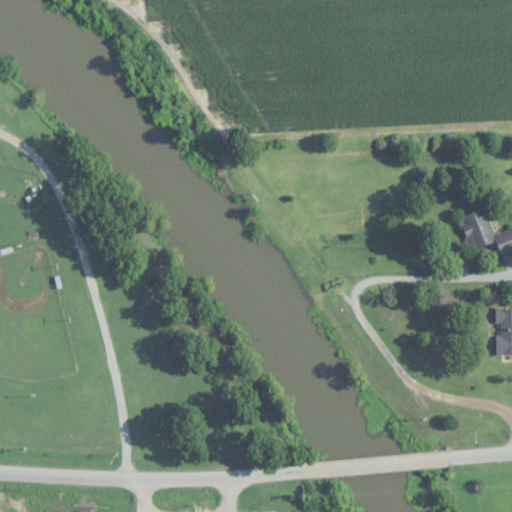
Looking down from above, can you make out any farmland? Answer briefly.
Yes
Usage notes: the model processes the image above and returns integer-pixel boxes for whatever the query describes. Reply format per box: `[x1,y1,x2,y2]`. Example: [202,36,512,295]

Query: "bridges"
[303,452,448,476]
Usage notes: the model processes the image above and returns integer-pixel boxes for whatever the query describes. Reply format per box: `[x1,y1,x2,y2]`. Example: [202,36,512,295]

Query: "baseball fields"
[0,248,75,380]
